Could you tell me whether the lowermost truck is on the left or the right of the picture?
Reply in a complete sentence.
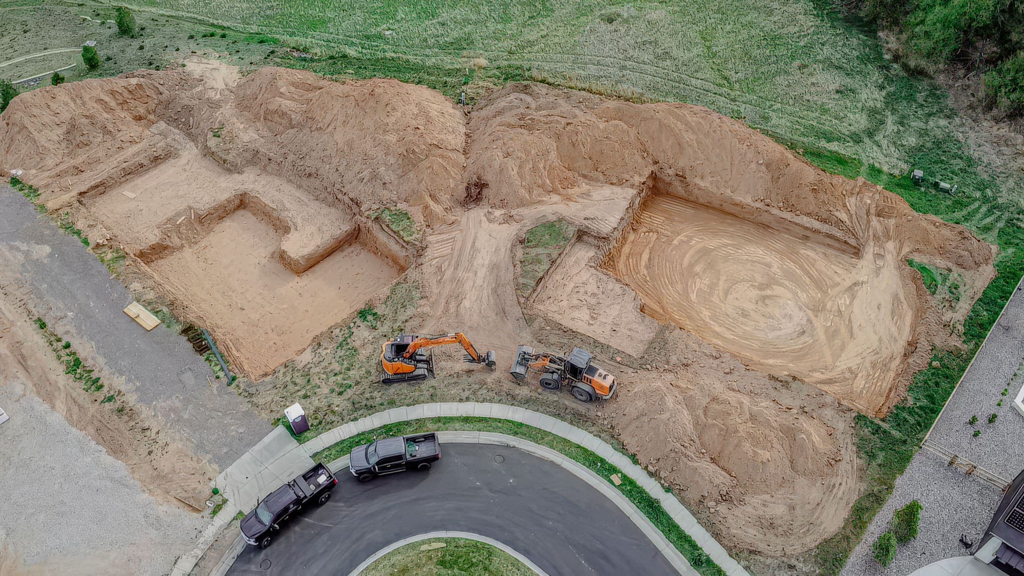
The lowermost truck sits on the left side.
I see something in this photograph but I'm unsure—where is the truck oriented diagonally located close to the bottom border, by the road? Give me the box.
[236,464,334,553]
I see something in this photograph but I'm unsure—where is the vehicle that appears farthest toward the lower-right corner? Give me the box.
[509,346,616,403]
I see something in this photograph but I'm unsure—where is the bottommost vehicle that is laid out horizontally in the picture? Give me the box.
[349,429,441,481]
